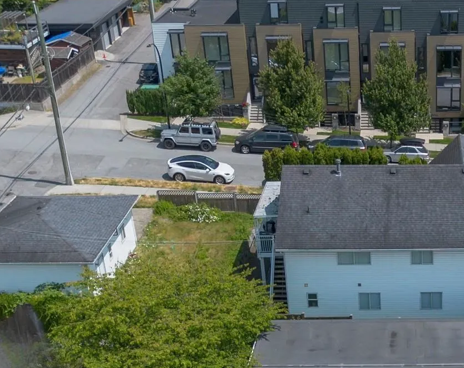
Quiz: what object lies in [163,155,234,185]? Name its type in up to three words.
car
